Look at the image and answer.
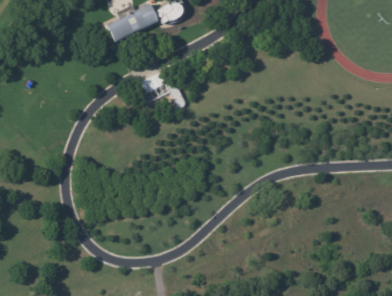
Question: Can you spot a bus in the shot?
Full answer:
No, I can see no bus in this picture.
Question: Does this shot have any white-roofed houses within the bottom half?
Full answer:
No, no white-roofed house is visible within the bottom half.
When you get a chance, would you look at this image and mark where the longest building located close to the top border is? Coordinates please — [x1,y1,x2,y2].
[107,6,159,42]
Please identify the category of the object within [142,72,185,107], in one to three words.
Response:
house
